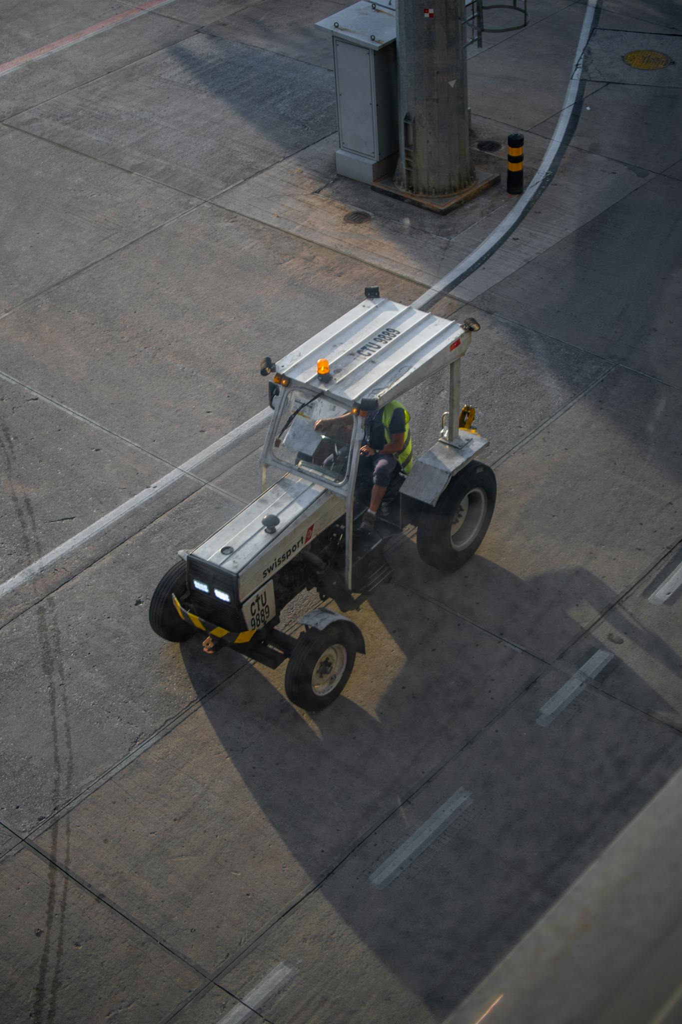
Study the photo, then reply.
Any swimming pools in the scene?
No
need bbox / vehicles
[147,281,498,715]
